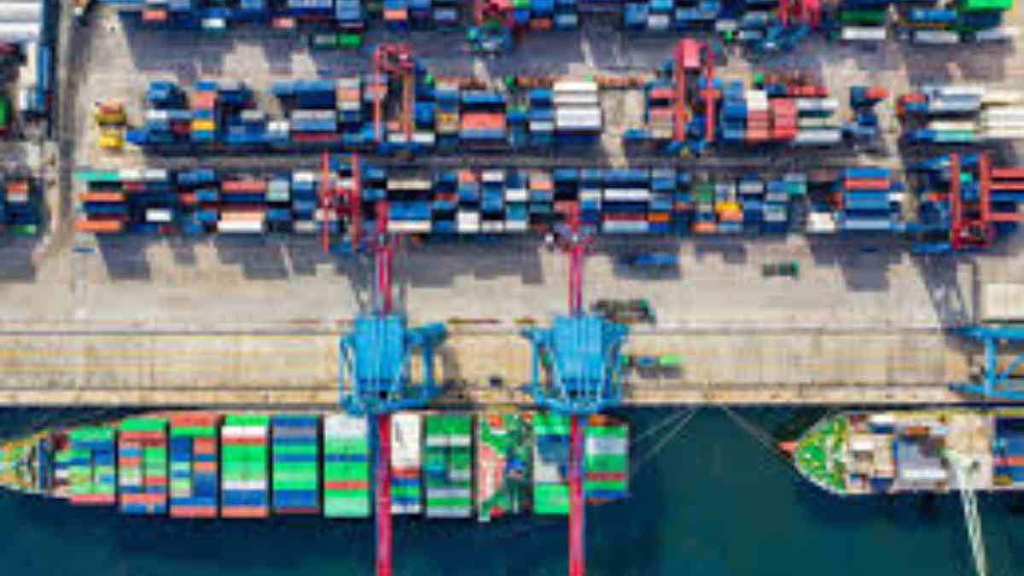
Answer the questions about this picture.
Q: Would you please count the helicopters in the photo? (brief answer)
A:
0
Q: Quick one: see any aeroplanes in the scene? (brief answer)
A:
No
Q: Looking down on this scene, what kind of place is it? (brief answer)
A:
port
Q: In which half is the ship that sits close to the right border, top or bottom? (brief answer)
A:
bottom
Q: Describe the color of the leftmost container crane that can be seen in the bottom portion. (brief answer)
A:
blue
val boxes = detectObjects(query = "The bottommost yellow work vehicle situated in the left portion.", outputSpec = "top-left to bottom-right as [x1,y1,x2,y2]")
[92,132,127,150]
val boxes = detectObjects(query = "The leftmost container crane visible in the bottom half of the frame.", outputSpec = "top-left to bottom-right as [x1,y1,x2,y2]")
[341,203,448,576]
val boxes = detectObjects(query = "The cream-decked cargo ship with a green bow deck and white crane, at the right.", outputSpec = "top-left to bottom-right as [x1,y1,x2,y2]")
[779,407,1024,576]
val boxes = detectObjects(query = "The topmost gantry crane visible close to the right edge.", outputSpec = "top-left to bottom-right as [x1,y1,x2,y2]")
[914,151,991,255]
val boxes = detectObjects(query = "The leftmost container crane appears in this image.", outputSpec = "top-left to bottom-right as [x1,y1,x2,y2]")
[320,152,377,256]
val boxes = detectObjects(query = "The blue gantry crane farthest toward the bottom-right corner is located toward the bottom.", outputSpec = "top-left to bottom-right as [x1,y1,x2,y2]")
[954,329,1024,404]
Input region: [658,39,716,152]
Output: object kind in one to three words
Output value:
container crane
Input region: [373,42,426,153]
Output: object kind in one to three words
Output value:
container crane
